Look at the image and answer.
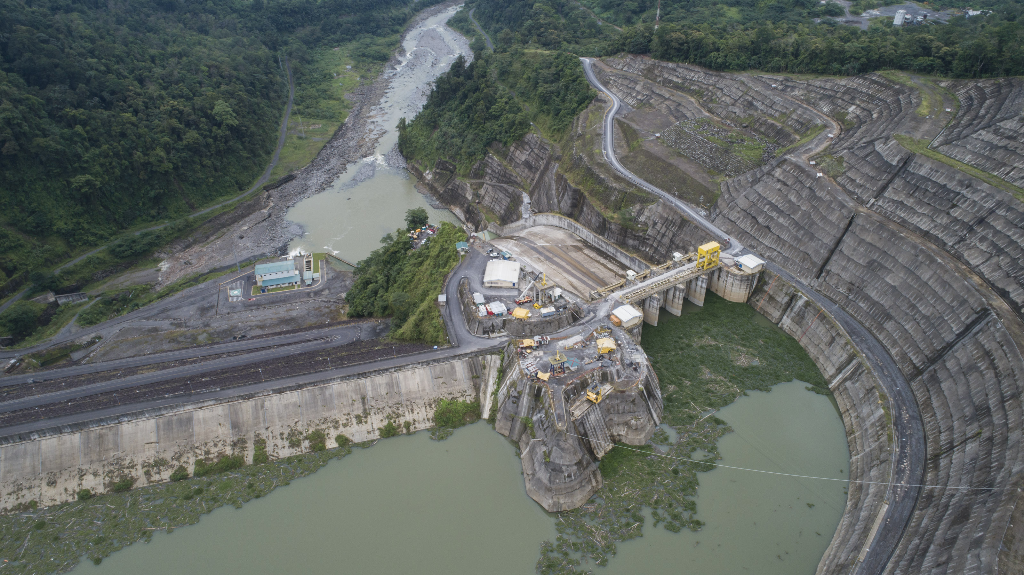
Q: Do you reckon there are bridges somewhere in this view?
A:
Yes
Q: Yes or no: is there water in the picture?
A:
Yes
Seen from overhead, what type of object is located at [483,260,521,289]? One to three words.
building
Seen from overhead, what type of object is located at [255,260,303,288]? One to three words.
building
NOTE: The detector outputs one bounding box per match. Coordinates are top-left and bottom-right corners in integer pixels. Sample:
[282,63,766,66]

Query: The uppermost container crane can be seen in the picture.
[698,240,723,271]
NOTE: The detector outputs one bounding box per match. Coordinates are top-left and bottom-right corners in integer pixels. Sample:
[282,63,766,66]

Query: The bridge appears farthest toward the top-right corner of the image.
[586,256,725,311]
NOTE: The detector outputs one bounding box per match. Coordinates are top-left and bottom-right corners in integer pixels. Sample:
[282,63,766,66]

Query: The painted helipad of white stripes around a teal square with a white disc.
[228,281,244,301]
